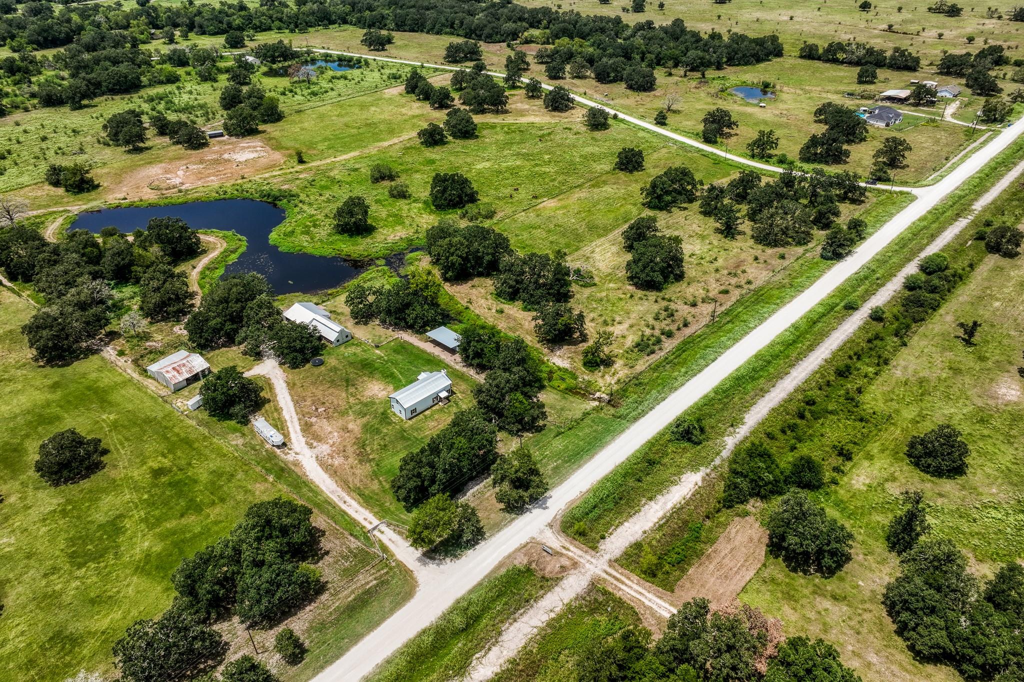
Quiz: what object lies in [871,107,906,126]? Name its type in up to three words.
house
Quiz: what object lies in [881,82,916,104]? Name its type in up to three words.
shed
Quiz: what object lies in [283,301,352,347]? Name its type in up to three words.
barn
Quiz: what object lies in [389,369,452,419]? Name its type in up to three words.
house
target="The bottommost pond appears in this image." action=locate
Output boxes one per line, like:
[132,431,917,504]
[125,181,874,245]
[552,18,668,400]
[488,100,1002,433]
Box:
[65,199,423,296]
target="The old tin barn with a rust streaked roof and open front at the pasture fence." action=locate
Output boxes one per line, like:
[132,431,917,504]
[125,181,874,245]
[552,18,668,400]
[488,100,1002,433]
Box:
[145,348,211,392]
